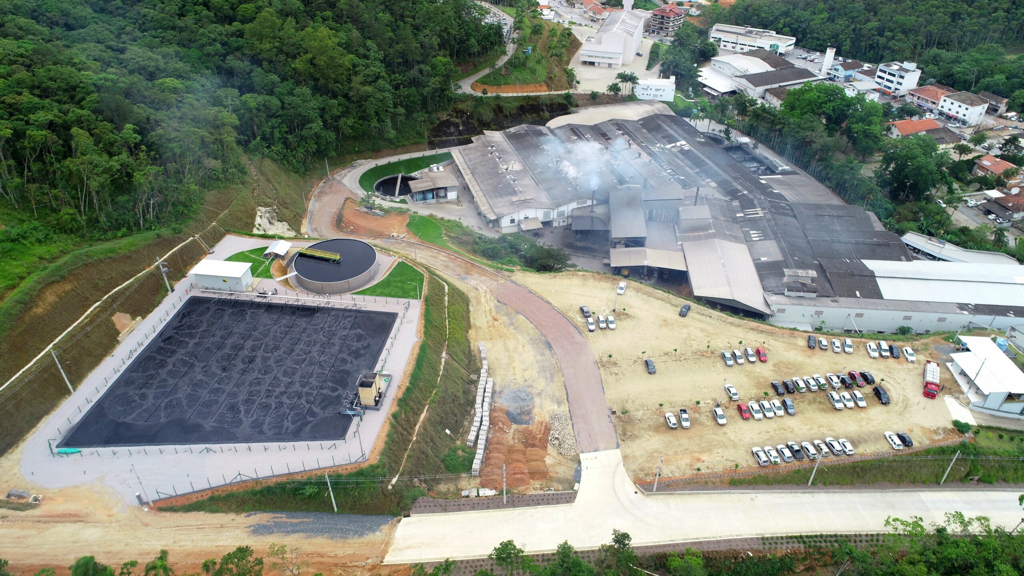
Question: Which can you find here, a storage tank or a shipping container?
storage tank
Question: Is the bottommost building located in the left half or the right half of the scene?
right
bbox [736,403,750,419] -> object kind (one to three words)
car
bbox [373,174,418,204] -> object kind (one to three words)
storage tank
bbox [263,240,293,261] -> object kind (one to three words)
shed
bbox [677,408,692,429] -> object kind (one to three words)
vehicle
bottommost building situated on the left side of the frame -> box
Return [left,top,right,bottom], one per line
[190,259,253,290]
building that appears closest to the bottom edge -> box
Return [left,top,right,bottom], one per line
[945,336,1024,405]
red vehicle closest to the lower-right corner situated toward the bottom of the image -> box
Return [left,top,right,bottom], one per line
[923,361,941,397]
